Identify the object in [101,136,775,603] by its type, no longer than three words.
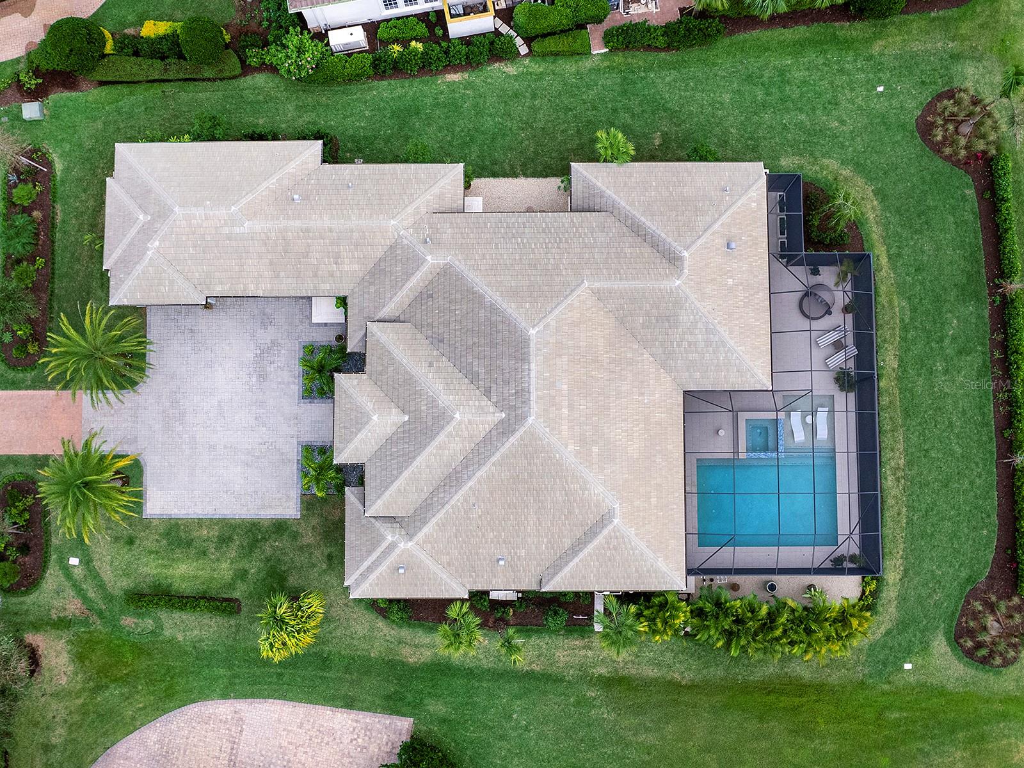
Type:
house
